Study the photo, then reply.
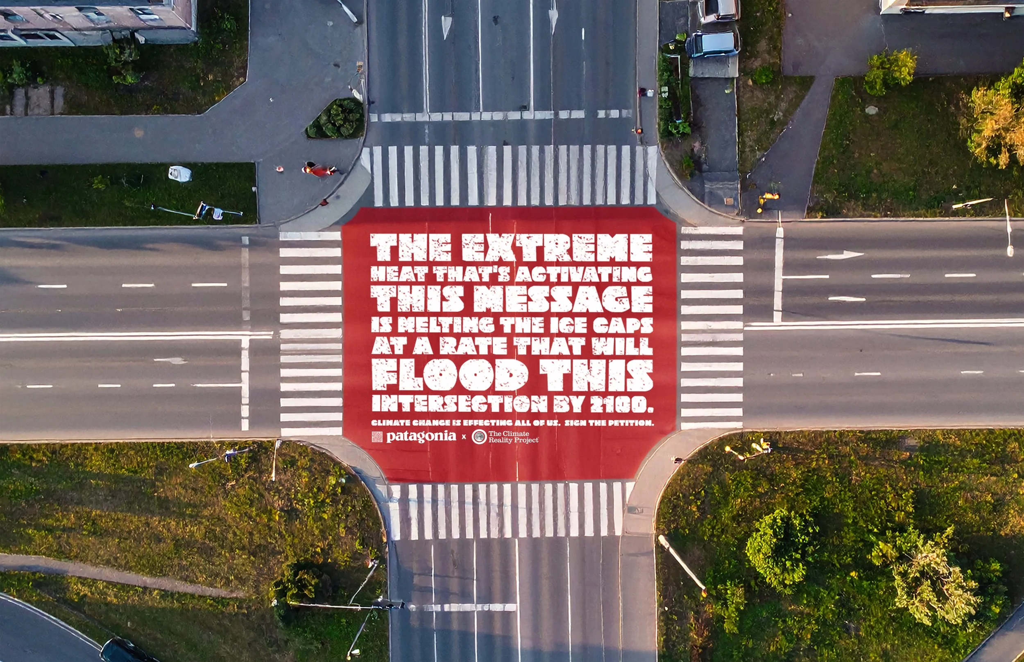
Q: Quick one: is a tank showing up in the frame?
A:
No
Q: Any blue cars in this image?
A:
Yes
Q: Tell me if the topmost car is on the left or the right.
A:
right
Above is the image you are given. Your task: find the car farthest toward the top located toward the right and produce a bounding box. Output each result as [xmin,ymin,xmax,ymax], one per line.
[691,0,752,25]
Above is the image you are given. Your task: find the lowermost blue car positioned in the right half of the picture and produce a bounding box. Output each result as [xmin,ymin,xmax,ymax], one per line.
[686,28,745,61]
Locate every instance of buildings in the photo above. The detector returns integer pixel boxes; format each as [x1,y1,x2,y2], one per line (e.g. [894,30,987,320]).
[0,0,200,57]
[881,0,1024,31]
